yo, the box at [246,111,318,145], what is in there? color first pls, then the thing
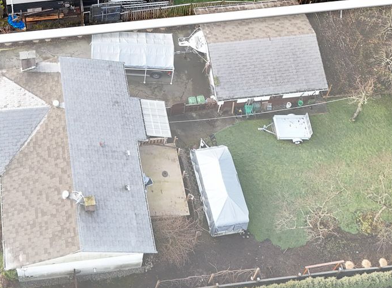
white trailer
